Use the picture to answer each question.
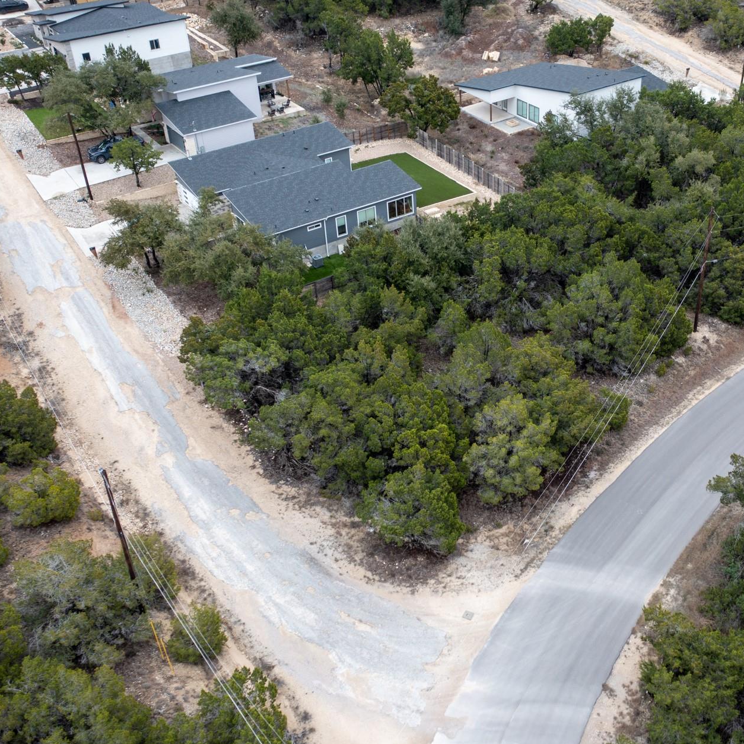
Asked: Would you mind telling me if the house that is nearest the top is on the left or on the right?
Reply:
left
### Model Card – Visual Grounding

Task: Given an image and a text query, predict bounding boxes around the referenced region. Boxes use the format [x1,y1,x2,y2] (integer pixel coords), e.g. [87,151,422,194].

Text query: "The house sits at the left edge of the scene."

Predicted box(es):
[25,0,191,68]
